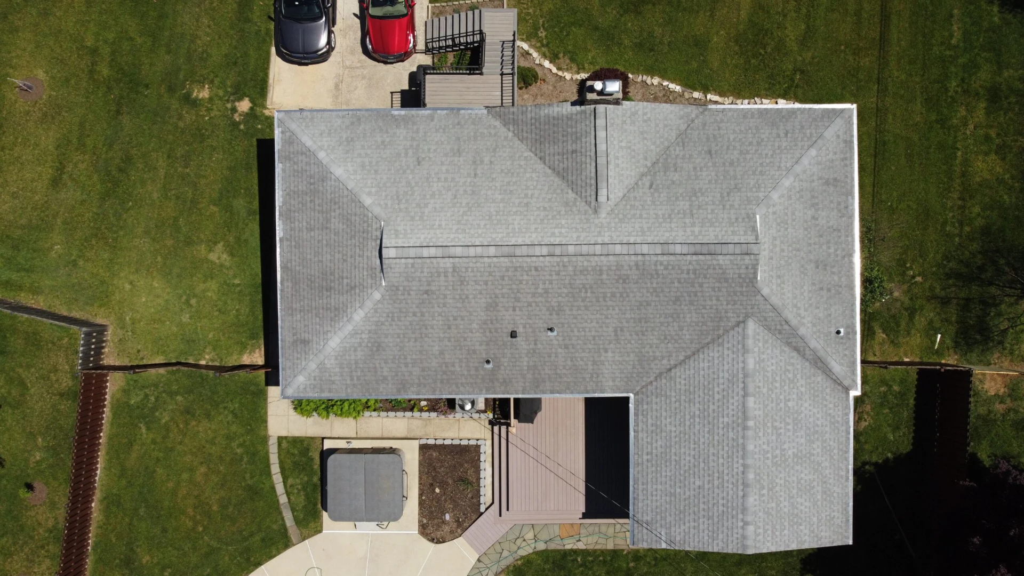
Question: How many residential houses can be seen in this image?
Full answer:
The photo contains exactly 1 residential house.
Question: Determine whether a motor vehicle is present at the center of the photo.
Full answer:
No, at the center of the photo there is no motor vehicle.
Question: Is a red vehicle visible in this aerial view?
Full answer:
Yes, a red vehicle can be made out from above.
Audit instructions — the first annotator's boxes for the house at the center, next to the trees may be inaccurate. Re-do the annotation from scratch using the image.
[276,81,860,552]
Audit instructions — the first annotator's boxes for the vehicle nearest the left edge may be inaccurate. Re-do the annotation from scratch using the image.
[264,0,339,65]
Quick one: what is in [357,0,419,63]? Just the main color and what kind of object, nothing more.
red car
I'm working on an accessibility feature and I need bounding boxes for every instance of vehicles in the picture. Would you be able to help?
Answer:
[264,0,339,65]
[357,0,419,63]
